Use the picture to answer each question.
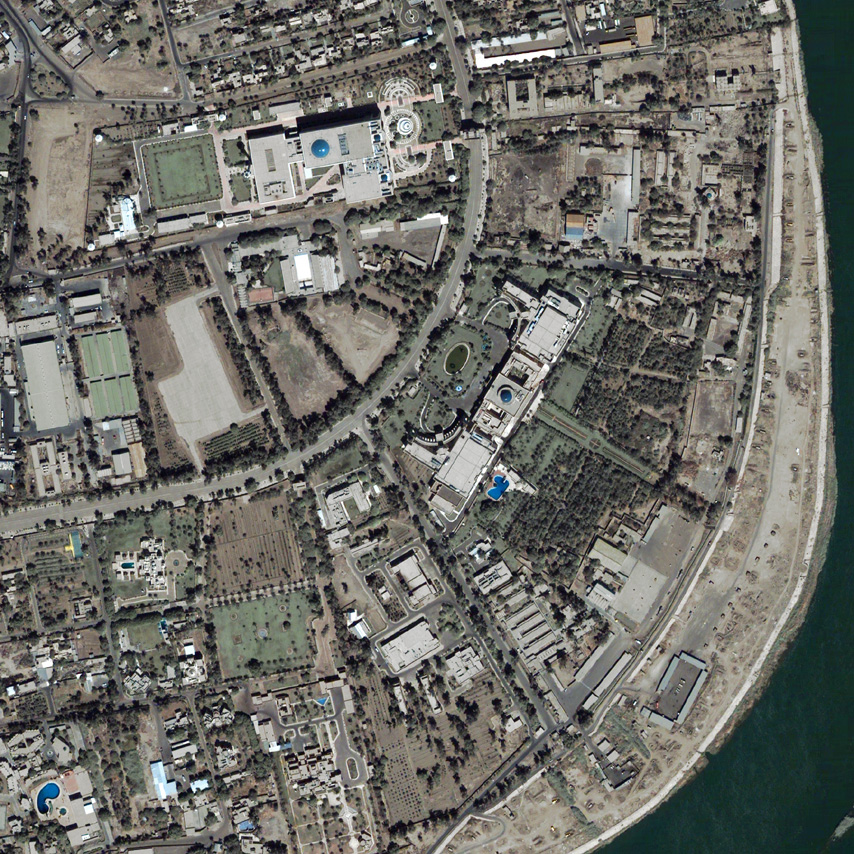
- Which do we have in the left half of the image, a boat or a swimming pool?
swimming pool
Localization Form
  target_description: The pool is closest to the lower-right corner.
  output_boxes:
[488,475,510,500]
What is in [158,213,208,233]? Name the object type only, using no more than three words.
shed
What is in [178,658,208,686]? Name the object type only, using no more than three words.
house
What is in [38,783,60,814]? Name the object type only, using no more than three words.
swimming pool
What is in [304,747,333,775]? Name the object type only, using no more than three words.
building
